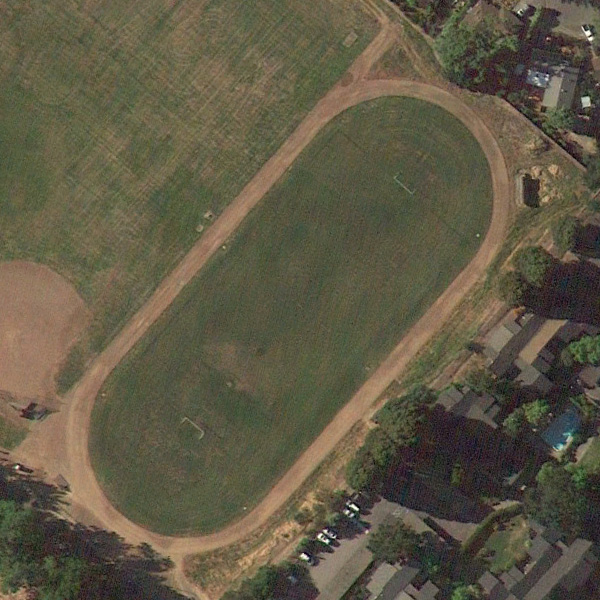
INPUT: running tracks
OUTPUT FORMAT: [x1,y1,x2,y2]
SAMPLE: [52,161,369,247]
[65,77,510,555]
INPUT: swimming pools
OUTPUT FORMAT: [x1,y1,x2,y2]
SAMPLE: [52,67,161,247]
[541,408,583,452]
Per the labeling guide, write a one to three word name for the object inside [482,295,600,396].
house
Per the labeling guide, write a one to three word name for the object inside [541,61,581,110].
house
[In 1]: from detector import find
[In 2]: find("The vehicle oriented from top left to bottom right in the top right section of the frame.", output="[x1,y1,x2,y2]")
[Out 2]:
[581,23,595,42]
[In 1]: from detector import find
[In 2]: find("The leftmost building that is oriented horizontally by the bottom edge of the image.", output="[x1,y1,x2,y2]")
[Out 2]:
[357,559,451,600]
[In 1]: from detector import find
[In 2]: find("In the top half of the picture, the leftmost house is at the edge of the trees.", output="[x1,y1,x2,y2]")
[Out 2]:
[466,0,529,40]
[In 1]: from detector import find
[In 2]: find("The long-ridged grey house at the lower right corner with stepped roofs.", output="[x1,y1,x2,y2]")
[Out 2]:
[469,516,600,600]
